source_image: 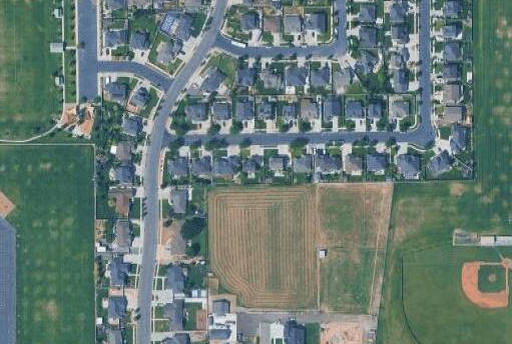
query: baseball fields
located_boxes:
[402,246,512,344]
